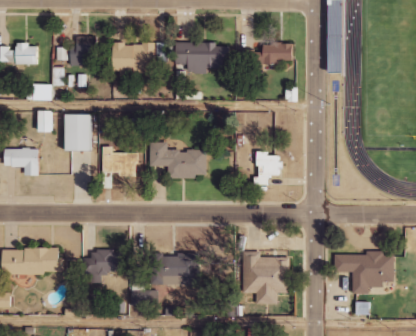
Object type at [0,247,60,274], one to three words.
house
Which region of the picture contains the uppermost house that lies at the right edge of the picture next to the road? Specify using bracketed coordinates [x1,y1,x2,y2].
[334,250,396,294]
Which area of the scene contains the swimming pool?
bottom left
